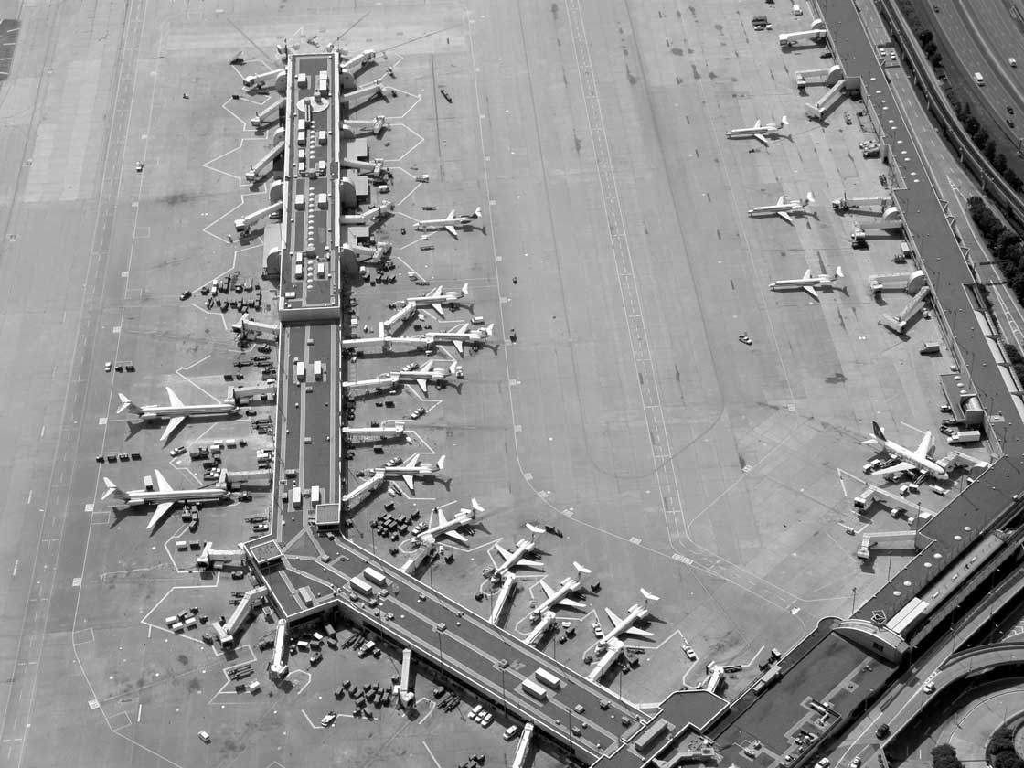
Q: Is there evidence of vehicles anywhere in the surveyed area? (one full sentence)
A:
Yes, there is a vehicle in the image.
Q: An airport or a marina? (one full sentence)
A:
It's an airport.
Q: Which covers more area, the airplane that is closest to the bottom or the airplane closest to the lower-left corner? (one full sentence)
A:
It is the airplane closest to the lower-left corner that is larger, not the airplane that is closest to the bottom.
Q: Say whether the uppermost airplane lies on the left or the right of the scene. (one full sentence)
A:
The uppermost airplane is on the right side of the image.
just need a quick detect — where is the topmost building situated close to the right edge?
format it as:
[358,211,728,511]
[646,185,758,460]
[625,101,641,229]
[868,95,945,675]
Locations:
[811,0,1024,625]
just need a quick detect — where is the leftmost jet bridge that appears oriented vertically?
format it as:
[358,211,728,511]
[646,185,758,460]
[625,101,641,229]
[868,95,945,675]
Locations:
[270,616,291,683]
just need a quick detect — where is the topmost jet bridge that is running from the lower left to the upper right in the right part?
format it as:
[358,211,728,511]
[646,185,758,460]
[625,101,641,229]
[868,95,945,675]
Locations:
[803,80,843,121]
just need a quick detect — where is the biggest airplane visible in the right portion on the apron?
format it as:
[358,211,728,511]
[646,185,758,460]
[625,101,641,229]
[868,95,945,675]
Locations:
[863,419,948,480]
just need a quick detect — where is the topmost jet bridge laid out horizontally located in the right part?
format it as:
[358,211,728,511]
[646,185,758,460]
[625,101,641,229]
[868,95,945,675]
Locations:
[776,30,826,50]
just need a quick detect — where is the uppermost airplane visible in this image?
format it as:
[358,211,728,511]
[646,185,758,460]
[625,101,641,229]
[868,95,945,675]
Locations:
[727,113,791,141]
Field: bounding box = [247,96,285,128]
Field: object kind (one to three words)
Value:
jet bridge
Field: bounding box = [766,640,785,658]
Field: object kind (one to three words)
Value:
vehicle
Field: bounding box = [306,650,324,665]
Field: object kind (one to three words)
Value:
vehicle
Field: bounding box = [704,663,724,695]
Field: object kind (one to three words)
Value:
jet bridge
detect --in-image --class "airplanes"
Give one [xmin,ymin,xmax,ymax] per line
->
[116,387,240,440]
[770,264,844,295]
[410,497,487,544]
[418,319,493,350]
[101,468,231,526]
[396,281,470,313]
[531,561,596,622]
[863,419,948,480]
[491,523,550,583]
[749,191,818,220]
[596,592,659,655]
[398,358,457,390]
[384,452,447,488]
[727,113,791,141]
[413,203,483,233]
